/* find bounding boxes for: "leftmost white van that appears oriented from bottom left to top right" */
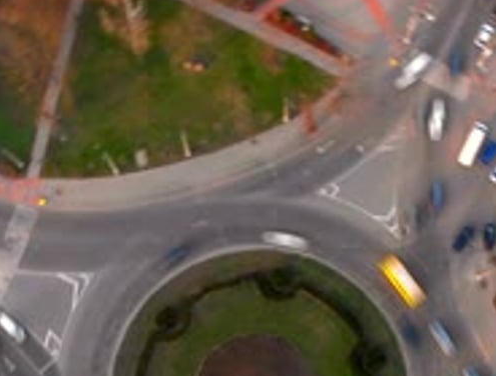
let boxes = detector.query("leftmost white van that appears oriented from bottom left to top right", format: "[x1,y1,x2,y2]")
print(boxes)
[396,46,433,87]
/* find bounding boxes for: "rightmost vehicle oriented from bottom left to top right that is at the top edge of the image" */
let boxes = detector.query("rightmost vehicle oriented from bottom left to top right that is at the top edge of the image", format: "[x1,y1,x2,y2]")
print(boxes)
[474,17,496,50]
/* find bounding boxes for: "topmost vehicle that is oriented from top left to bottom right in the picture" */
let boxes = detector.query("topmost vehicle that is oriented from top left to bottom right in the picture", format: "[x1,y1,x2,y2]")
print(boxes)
[377,251,430,306]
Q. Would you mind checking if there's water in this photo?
No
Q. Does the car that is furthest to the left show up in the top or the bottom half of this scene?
bottom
